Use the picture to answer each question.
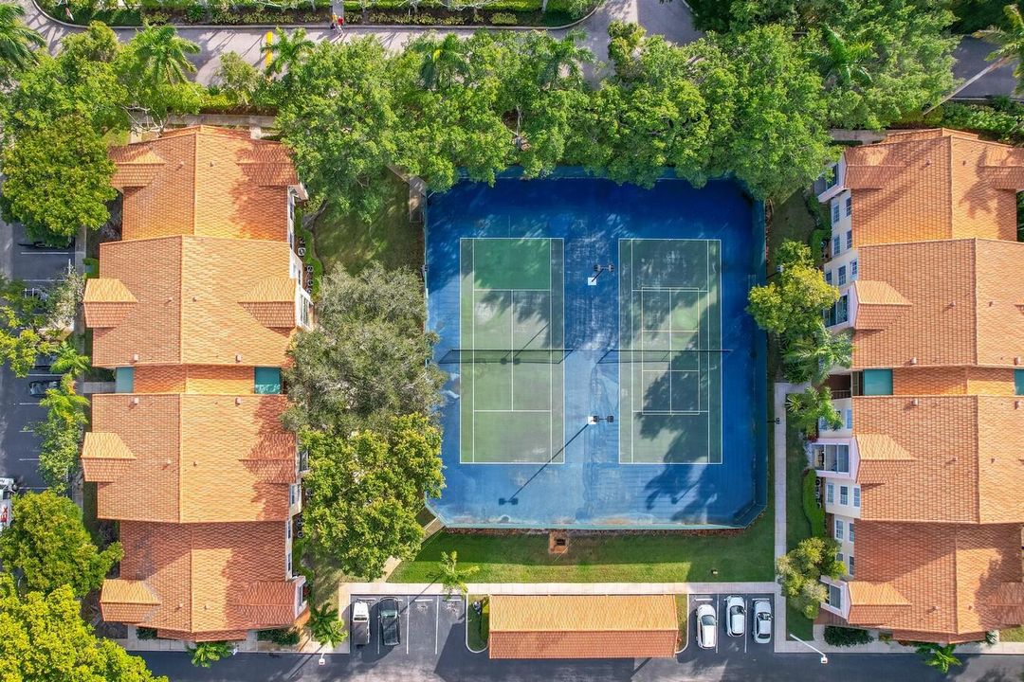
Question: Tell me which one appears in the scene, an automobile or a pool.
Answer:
automobile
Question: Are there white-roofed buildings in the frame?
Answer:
No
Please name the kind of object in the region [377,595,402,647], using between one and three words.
car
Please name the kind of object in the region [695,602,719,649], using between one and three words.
car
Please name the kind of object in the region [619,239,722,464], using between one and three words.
tennis court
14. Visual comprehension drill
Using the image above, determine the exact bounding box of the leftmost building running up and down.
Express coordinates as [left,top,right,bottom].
[74,124,315,642]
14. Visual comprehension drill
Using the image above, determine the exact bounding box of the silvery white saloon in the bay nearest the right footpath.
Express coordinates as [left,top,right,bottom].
[750,599,775,644]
